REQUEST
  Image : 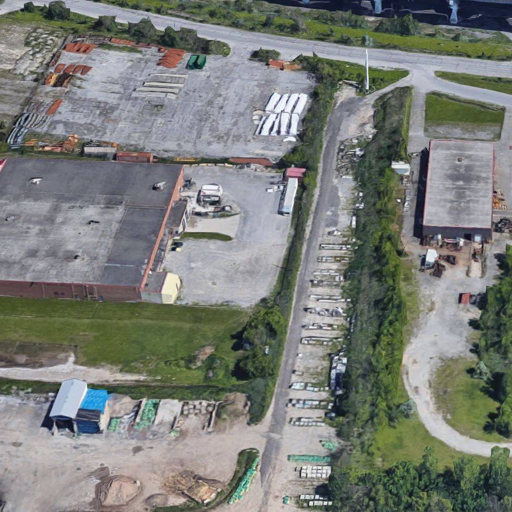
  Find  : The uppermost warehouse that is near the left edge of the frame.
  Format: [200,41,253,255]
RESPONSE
[0,157,190,304]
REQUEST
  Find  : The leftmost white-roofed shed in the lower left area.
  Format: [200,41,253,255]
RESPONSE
[49,378,88,435]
